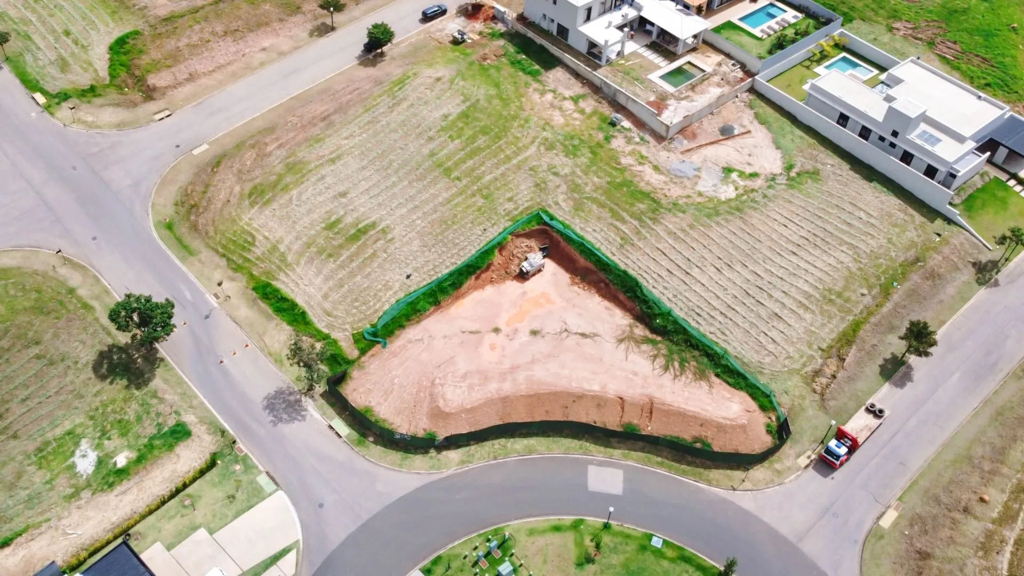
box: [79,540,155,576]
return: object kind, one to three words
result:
house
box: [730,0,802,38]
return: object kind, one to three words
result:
swimming pool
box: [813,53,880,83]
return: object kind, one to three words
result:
swimming pool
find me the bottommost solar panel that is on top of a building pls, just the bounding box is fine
[916,131,947,150]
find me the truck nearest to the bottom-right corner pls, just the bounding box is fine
[816,396,891,470]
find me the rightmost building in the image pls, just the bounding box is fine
[801,50,1024,192]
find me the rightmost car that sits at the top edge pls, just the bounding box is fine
[420,6,447,23]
